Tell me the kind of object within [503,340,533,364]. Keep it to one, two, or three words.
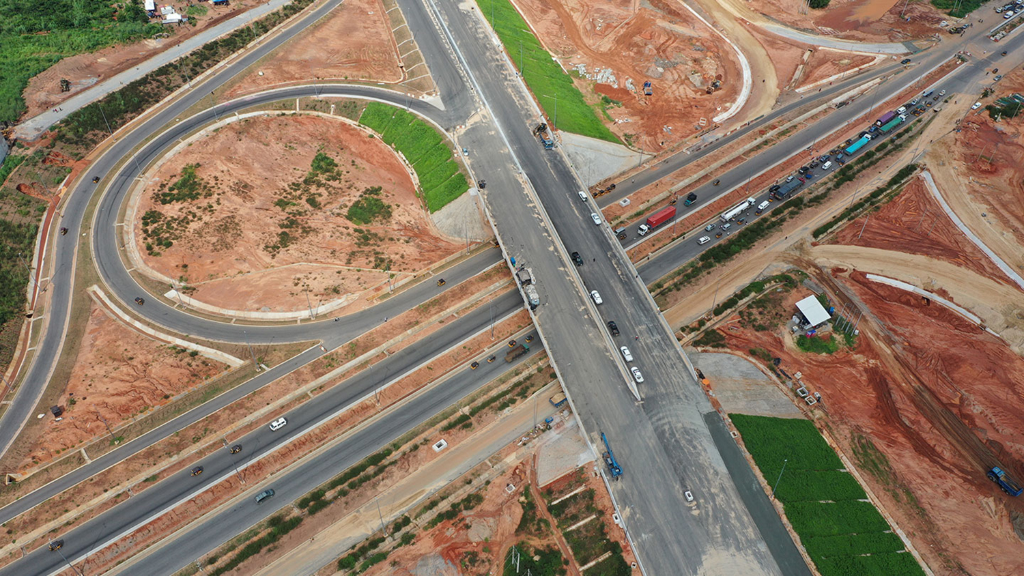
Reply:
truck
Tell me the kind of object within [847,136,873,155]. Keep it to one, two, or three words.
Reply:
vehicle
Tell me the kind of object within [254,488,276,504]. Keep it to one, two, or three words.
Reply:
car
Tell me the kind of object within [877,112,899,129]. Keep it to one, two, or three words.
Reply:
vehicle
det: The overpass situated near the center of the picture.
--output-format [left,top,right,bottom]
[429,0,699,576]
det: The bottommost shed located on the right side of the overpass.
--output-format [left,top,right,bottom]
[793,295,831,333]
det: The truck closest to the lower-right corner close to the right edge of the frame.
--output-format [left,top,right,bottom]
[985,464,1024,497]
